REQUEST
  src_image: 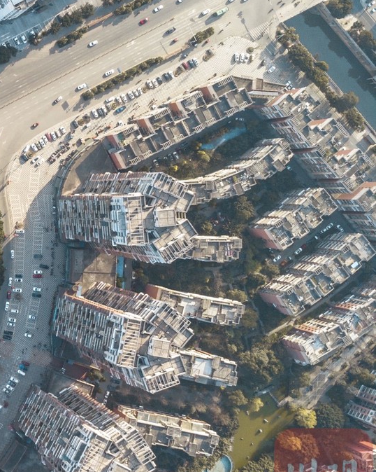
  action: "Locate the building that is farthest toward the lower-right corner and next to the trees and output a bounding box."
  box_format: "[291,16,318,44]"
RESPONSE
[344,419,376,472]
